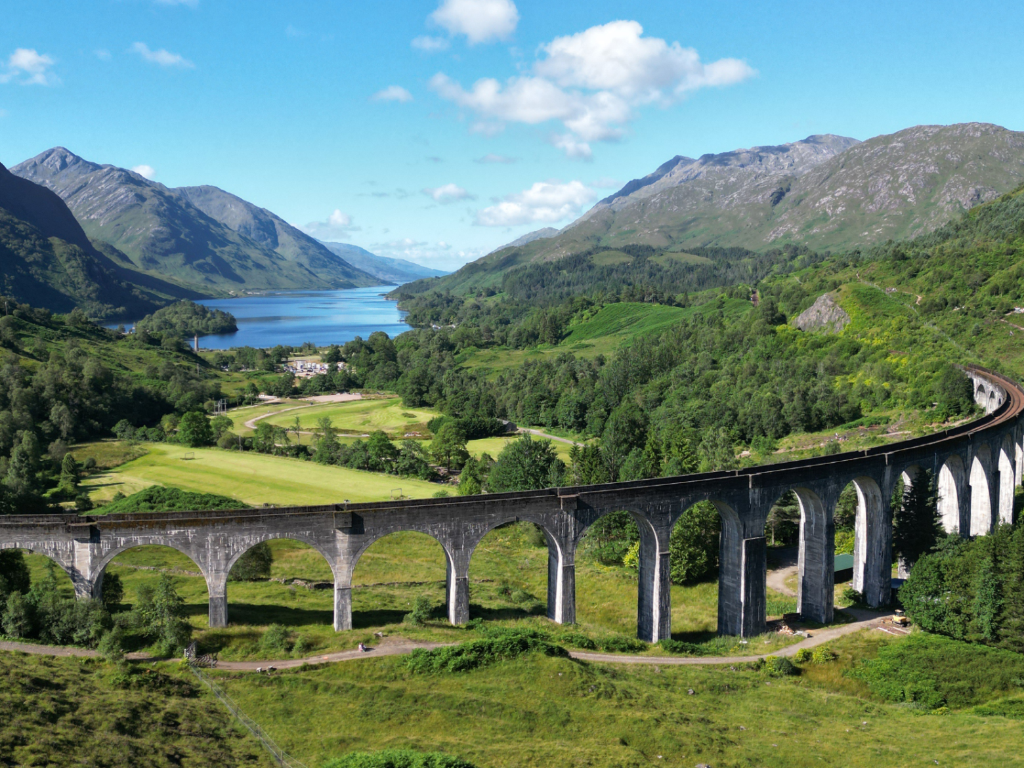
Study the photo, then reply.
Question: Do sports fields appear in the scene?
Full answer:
Yes, the picture does show a sports field.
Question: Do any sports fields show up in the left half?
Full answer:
Yes, looking in the left half, one can make out a sports field.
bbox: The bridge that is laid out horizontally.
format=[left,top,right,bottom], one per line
[0,360,1024,643]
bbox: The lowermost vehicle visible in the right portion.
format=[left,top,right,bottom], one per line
[891,613,914,631]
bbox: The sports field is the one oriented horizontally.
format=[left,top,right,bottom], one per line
[89,442,459,504]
